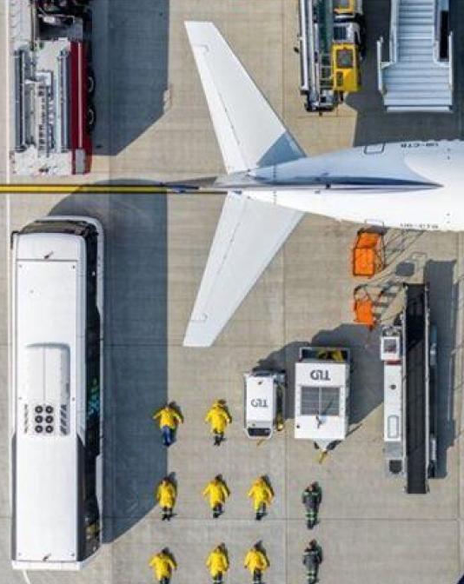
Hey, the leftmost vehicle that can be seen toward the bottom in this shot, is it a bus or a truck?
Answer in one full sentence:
I'd say the leftmost vehicle that can be seen toward the bottom is a bus.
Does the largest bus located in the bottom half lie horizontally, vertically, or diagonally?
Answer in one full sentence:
Seen from above, the largest bus located in the bottom half lies vertically.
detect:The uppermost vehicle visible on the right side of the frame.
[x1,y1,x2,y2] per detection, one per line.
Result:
[294,0,369,119]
